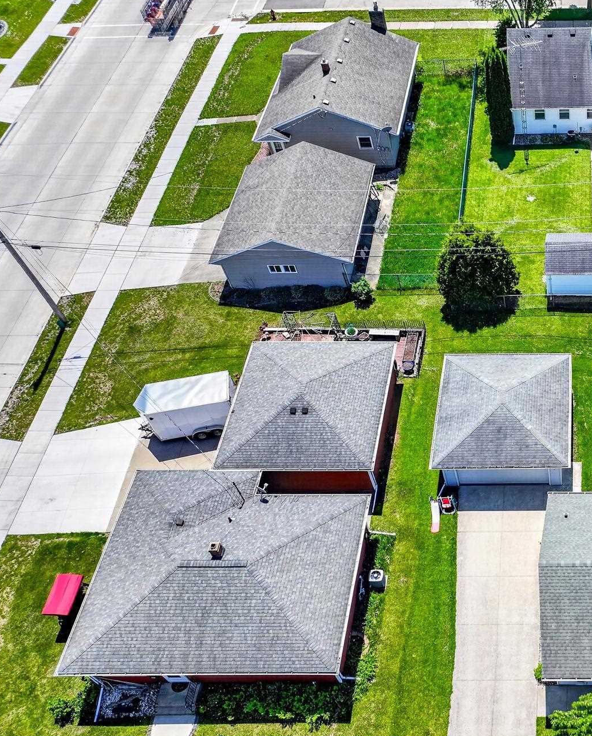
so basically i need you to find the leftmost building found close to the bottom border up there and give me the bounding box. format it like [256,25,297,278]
[53,469,400,717]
